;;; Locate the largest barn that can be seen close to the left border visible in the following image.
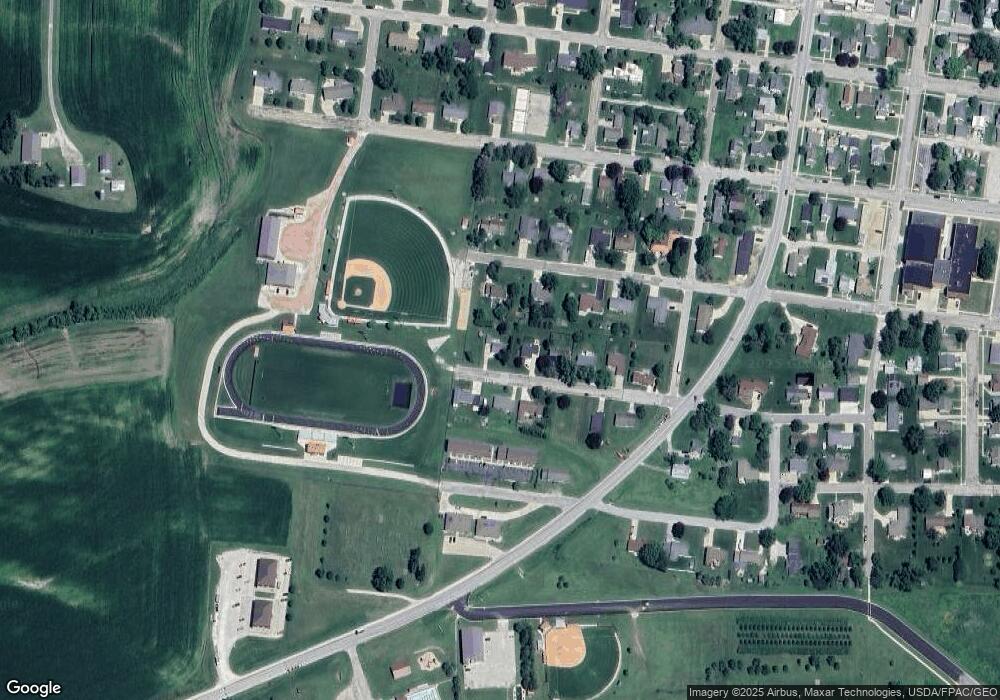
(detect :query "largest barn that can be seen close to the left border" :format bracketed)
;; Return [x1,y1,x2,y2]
[22,132,42,165]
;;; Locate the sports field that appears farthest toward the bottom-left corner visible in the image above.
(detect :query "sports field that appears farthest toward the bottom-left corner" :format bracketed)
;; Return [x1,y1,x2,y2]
[235,344,416,425]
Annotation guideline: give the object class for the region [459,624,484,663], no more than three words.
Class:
building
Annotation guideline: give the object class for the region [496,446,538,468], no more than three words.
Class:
house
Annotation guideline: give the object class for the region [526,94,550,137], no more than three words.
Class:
sports court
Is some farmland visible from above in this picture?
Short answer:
Yes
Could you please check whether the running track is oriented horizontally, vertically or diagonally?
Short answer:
horizontally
